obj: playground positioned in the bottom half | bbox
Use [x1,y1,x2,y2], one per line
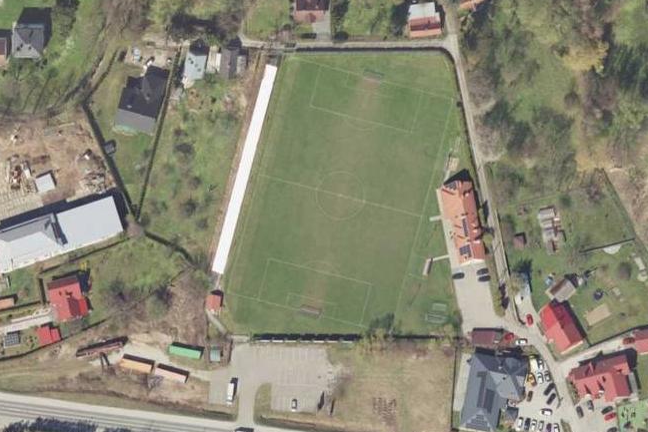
[618,400,648,432]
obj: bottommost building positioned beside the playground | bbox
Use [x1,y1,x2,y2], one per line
[571,357,634,401]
